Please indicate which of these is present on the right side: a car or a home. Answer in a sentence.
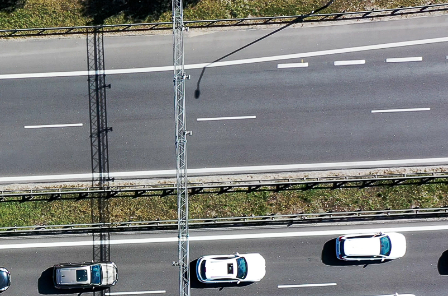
Looking on the right side, you will find a car.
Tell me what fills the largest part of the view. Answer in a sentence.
For the most part, this view shows paved ground.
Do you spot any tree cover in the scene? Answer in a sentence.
No, there's no tree cover in this view.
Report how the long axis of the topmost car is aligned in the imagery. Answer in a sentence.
In this picture, the topmost car lies from side to side.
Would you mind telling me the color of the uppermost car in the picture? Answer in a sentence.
The uppermost car looks white in the image.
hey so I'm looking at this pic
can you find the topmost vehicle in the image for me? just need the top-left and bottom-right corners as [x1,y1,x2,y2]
[335,229,406,262]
